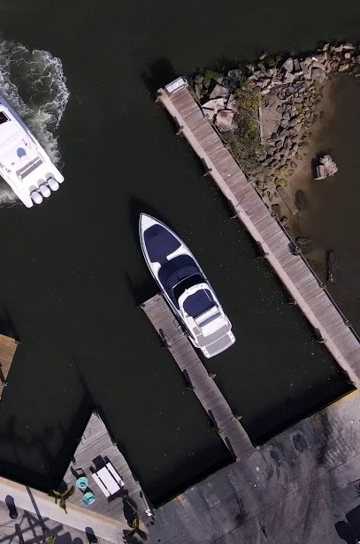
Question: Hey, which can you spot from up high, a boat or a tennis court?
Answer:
boat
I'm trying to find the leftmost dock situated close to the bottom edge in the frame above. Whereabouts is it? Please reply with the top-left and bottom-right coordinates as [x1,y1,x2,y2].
[49,408,153,527]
